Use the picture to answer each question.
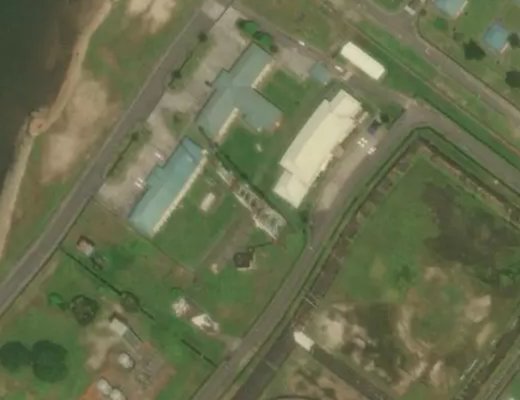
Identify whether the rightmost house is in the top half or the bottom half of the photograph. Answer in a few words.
top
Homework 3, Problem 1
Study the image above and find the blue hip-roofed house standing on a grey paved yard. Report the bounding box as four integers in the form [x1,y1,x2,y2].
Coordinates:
[484,25,509,51]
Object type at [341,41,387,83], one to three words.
shed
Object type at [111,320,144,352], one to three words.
house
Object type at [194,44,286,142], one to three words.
building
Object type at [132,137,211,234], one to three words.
building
